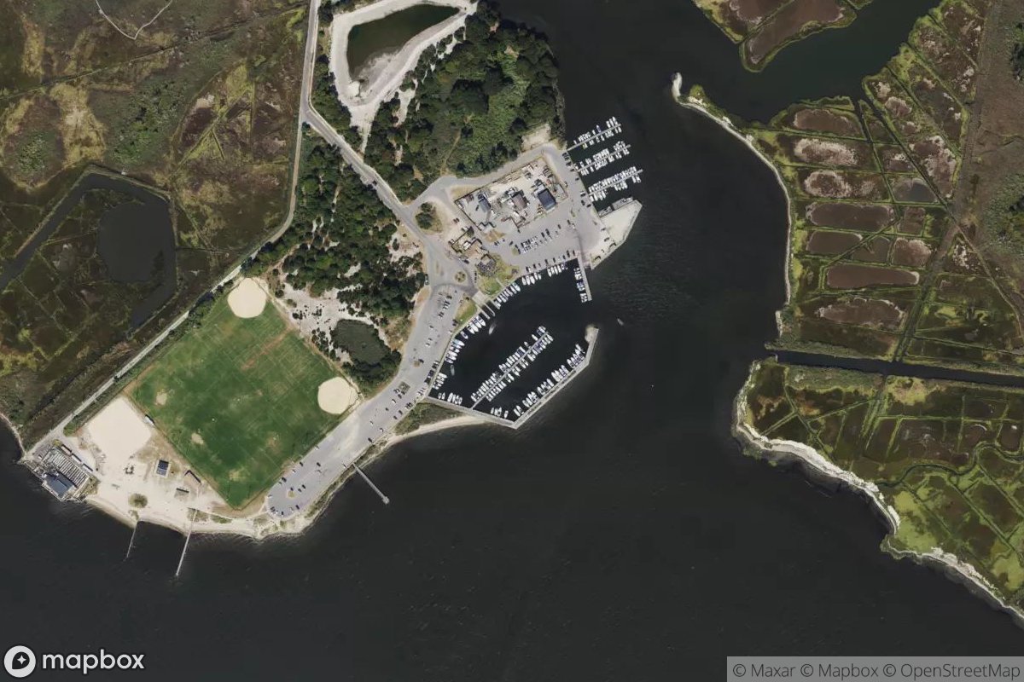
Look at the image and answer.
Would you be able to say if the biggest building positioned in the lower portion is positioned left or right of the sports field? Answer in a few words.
left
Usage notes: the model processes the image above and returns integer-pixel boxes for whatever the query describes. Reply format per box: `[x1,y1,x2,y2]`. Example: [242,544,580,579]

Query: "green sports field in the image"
[125,278,358,510]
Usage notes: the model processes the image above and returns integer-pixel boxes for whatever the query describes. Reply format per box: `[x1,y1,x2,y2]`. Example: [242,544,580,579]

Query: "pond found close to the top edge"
[347,4,458,77]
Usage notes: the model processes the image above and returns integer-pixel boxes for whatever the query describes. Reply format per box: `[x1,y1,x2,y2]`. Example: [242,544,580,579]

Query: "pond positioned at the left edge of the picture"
[0,173,177,323]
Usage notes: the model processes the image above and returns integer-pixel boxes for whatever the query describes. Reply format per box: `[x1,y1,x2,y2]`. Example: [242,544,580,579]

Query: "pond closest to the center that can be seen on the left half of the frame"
[333,319,389,364]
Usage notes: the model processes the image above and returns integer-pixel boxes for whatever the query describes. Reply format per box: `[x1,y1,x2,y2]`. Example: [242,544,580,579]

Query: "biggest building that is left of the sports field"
[42,469,77,500]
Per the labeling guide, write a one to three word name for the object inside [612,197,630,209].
ship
